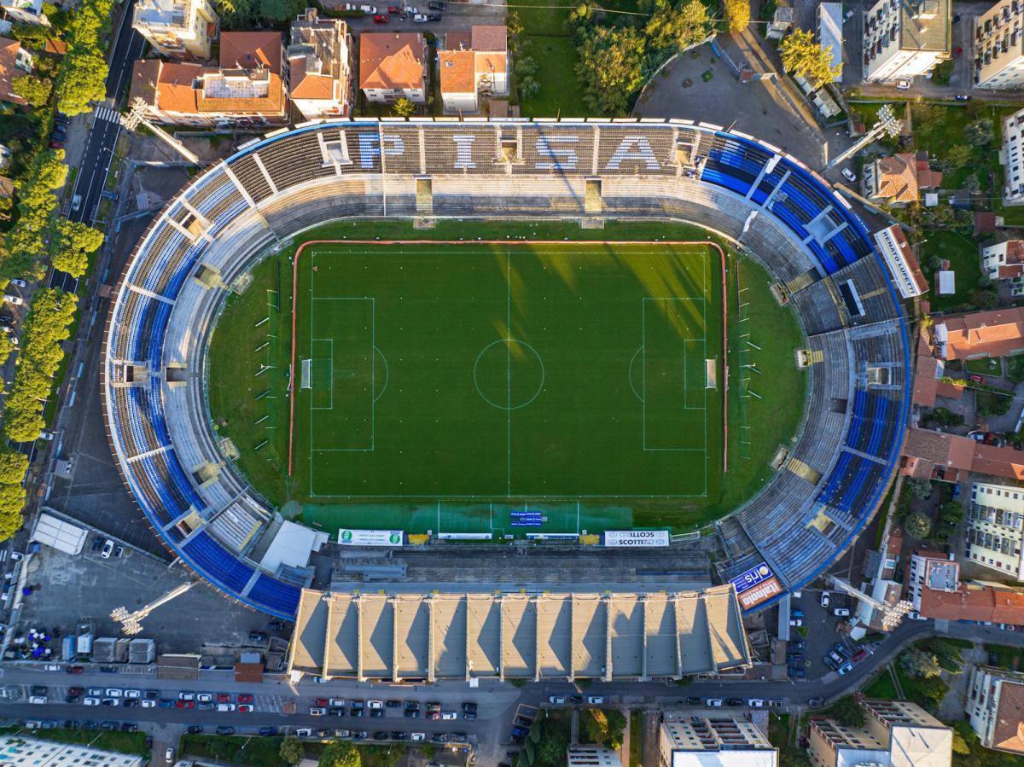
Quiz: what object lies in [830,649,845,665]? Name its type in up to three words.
car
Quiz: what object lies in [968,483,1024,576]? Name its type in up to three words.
building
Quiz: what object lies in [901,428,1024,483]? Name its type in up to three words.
house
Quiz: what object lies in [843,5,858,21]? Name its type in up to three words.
vehicle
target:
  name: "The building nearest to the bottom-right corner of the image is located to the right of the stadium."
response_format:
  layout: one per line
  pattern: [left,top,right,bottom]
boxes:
[957,658,1024,754]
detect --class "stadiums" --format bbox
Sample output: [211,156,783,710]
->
[92,114,916,688]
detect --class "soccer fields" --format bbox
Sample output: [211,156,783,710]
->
[203,217,810,546]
